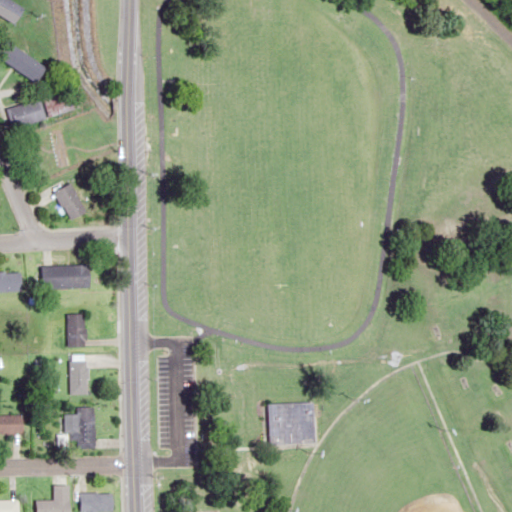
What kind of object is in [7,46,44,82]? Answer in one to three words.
house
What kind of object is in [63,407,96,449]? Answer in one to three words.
house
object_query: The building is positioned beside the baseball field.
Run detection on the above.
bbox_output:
[266,402,315,446]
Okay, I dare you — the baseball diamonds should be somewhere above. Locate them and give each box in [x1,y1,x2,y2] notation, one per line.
[292,364,480,512]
